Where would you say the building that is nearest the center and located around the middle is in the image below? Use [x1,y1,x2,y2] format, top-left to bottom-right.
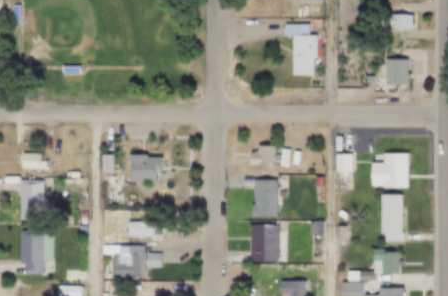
[249,146,278,166]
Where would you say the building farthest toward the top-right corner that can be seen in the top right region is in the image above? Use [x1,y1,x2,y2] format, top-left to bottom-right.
[390,14,414,30]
